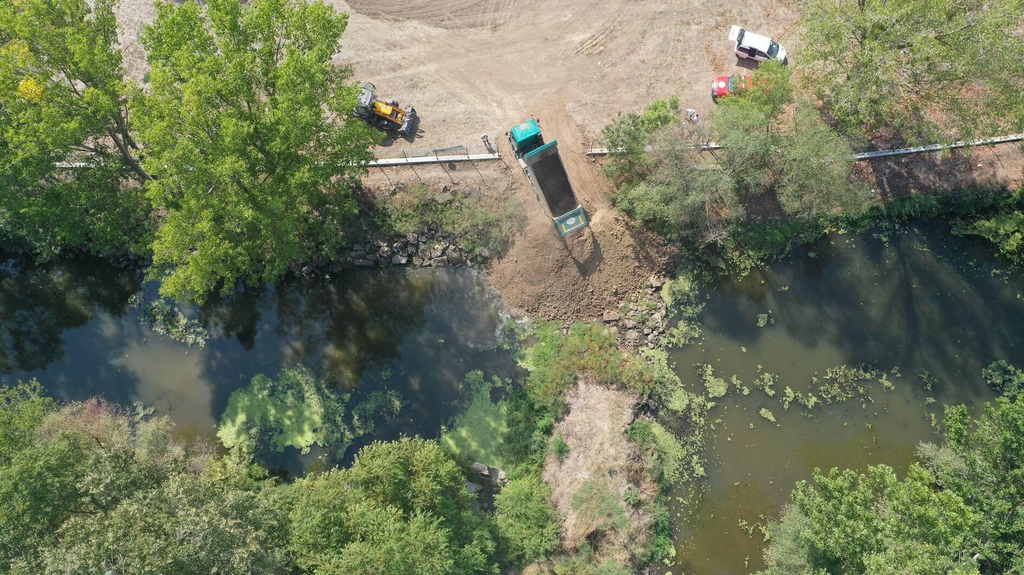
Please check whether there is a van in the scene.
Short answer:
Yes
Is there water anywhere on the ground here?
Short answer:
Yes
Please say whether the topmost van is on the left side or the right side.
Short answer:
right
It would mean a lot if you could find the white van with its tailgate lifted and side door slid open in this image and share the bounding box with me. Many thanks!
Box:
[726,26,785,68]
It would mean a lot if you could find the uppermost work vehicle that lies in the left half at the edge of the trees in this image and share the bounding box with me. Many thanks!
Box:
[339,80,419,137]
